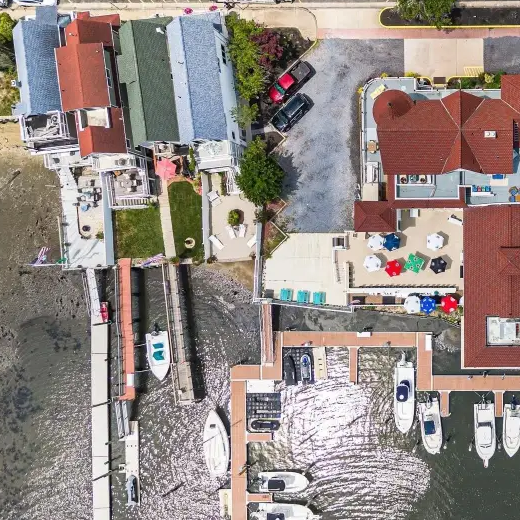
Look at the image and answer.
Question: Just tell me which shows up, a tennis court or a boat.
boat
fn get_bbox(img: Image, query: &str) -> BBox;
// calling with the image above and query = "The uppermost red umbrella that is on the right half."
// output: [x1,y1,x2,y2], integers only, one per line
[385,259,402,276]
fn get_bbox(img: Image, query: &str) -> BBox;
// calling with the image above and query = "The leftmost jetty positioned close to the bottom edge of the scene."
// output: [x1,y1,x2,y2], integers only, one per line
[91,322,112,520]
